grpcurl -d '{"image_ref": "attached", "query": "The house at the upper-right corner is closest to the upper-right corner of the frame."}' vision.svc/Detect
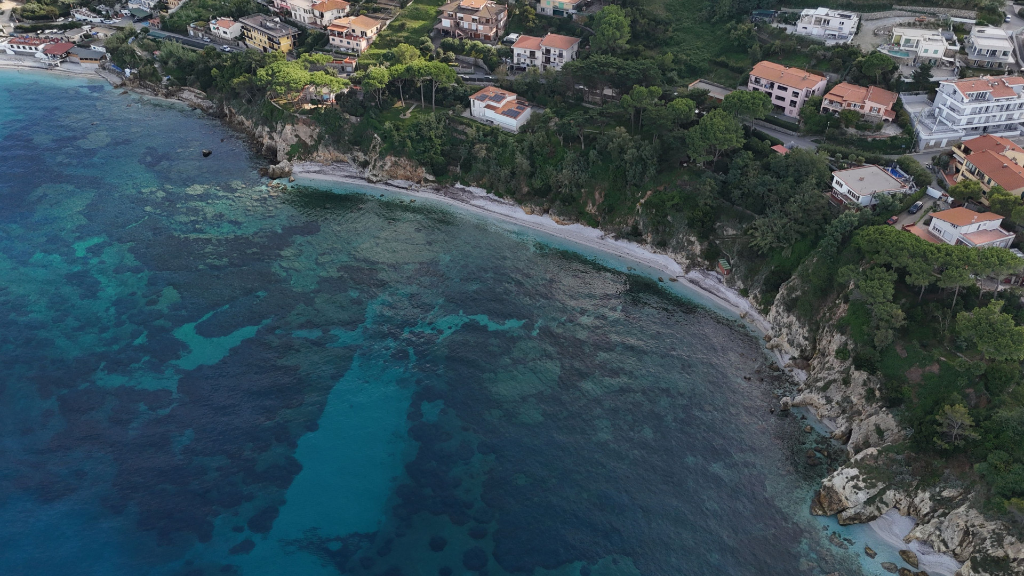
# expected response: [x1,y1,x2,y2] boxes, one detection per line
[969,23,1014,68]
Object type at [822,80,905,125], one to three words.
house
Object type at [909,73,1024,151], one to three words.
building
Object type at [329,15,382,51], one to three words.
house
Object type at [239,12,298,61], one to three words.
building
